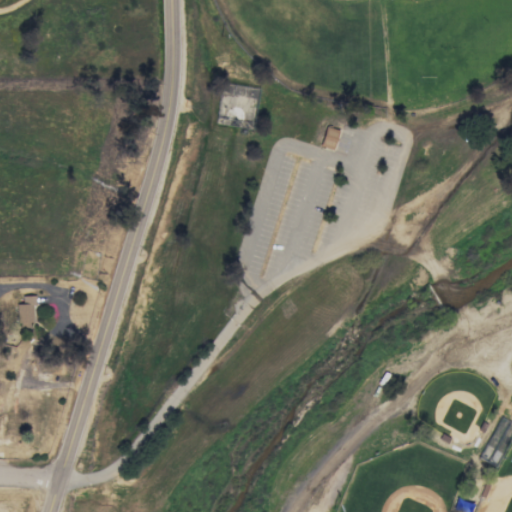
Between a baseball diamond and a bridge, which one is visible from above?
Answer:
baseball diamond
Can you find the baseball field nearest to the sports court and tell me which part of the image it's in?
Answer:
top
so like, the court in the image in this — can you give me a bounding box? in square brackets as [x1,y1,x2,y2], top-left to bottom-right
[218,84,260,128]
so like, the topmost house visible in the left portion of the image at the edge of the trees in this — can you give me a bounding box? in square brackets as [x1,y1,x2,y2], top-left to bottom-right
[18,296,37,328]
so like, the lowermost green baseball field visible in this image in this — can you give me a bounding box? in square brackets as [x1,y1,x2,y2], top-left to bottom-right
[341,444,465,512]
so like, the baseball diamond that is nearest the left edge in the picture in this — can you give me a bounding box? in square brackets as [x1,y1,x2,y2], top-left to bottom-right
[224,0,386,101]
